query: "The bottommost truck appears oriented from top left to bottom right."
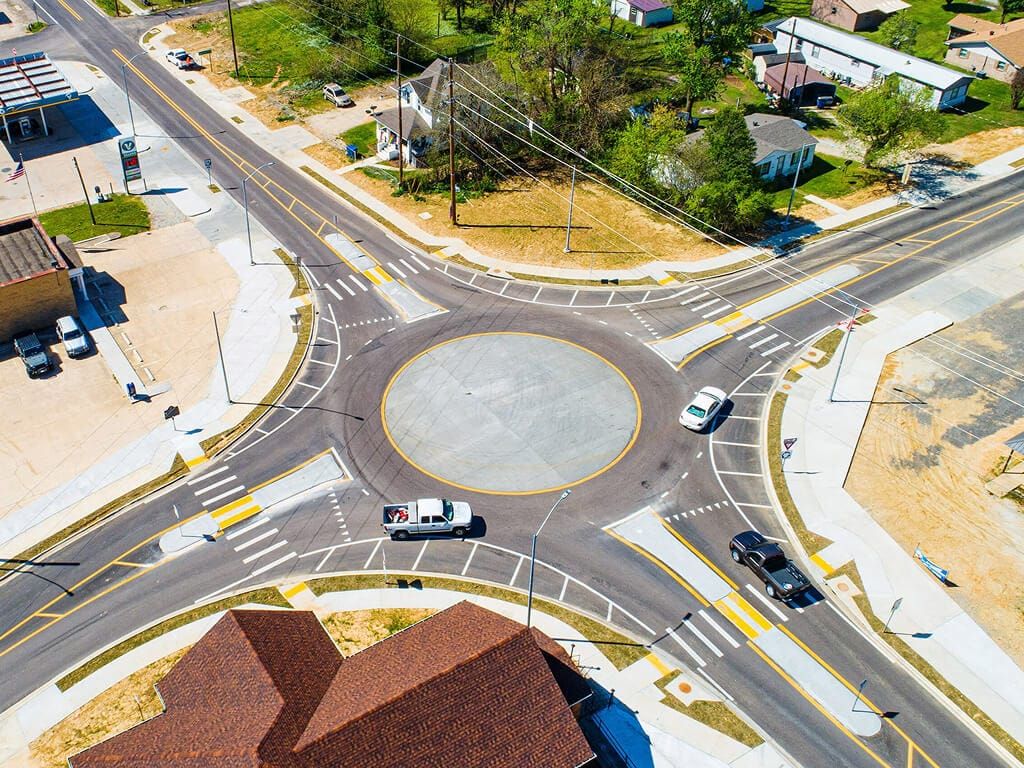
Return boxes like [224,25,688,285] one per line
[728,533,809,606]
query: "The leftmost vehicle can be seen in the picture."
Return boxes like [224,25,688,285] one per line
[11,330,51,374]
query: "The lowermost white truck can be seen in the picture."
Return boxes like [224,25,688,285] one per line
[384,500,475,540]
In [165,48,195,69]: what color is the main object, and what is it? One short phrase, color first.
white truck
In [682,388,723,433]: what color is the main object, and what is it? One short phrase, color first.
white car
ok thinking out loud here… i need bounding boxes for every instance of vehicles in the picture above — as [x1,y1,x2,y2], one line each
[682,388,723,433]
[51,312,94,358]
[321,81,351,105]
[165,48,195,69]
[728,533,809,606]
[384,500,475,540]
[11,330,51,374]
